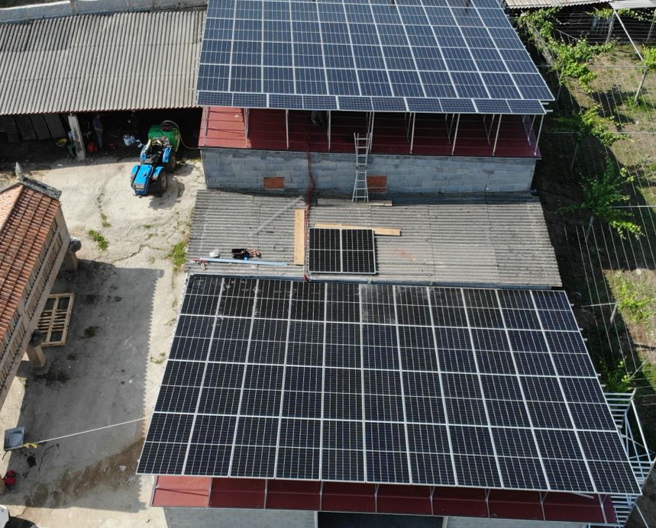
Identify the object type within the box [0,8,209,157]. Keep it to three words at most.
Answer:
shed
